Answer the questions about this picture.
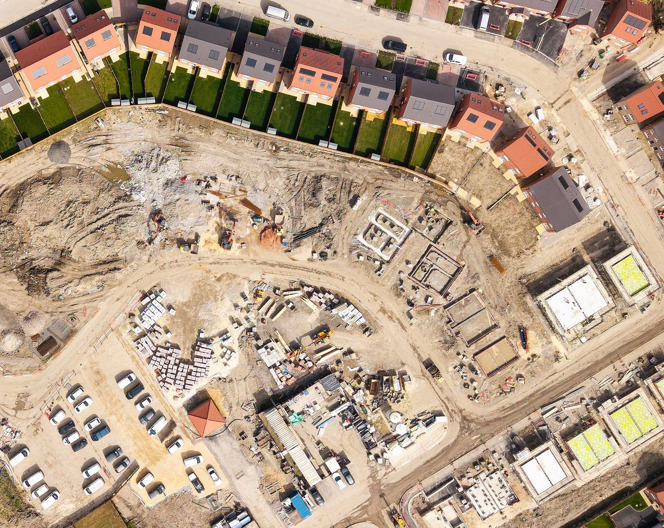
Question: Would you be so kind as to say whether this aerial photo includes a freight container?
Yes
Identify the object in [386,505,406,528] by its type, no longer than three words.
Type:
work vehicle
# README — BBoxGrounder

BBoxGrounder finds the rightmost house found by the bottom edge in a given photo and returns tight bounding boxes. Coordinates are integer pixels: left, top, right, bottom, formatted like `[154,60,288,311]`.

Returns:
[642,472,664,517]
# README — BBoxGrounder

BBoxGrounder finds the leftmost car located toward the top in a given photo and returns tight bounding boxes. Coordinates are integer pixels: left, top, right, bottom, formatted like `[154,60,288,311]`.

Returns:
[9,35,21,51]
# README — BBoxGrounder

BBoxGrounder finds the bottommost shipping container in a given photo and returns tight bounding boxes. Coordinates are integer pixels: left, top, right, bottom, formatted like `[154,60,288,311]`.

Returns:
[292,457,317,488]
